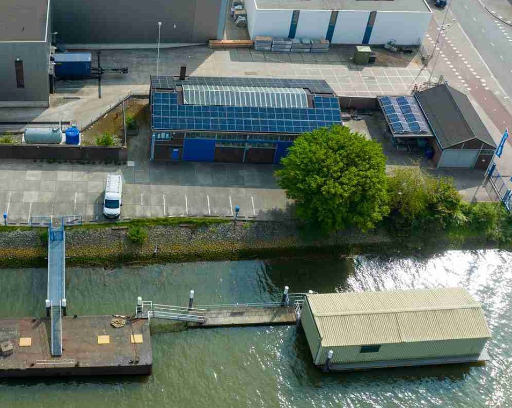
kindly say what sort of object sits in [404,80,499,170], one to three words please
building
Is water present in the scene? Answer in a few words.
Yes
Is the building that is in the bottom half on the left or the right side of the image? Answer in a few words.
right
